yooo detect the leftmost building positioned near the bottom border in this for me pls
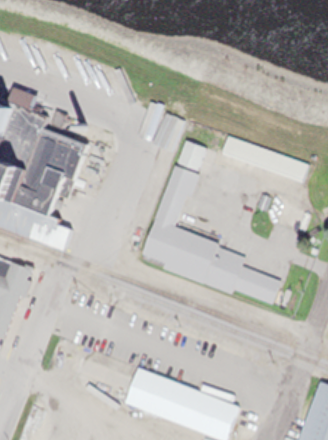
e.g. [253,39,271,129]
[126,368,240,440]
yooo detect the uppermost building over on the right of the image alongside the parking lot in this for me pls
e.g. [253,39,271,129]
[144,164,284,303]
